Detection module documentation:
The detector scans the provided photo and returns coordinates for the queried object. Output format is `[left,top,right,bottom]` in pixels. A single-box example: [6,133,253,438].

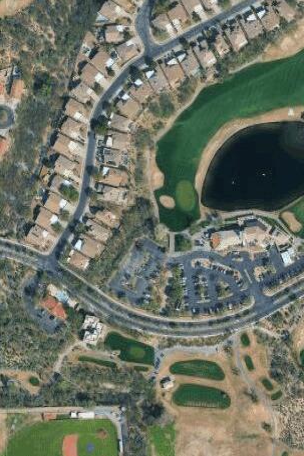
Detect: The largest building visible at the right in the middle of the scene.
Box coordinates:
[209,228,291,251]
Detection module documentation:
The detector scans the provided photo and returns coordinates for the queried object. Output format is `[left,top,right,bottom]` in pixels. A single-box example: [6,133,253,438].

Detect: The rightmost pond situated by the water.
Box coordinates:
[201,121,304,212]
